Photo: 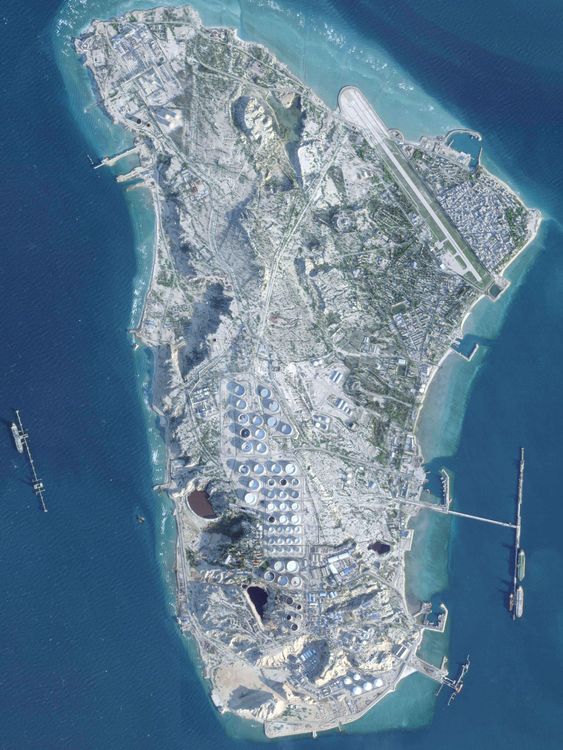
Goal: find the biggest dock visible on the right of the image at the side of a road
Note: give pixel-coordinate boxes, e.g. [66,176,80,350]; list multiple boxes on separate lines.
[421,448,523,620]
